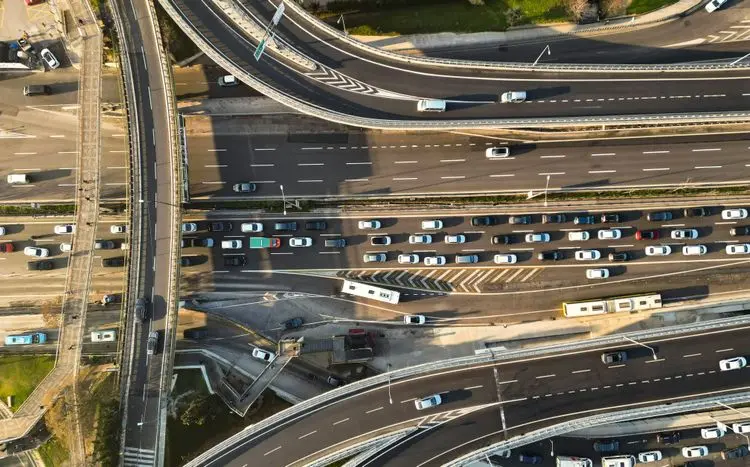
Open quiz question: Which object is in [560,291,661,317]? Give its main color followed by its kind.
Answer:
white bus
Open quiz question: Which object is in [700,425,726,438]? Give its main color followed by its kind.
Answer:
white vehicle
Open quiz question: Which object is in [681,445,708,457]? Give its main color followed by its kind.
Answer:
white vehicle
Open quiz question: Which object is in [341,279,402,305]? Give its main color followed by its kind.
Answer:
white bus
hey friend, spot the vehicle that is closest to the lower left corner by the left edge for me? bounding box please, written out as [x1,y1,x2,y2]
[2,332,50,345]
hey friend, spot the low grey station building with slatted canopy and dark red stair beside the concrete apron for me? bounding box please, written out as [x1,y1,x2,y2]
[301,326,376,363]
